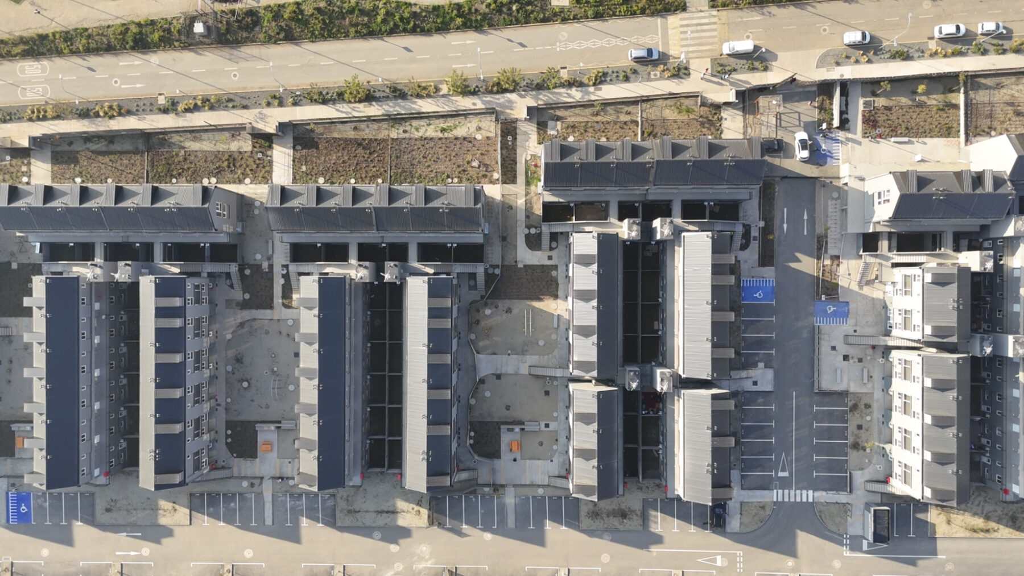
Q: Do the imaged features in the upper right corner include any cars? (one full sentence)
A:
Yes, you'll find a car in the upper right corner.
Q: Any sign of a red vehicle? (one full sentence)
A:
No, there appears to be no red vehicle in this shot.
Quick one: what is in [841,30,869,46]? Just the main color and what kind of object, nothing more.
white car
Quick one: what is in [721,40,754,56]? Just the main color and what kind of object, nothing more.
white vehicle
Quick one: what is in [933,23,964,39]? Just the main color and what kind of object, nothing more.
white car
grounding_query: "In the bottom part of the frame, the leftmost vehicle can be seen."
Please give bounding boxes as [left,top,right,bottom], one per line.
[712,502,727,533]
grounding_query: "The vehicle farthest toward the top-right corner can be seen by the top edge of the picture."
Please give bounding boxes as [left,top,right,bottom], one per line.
[976,21,1001,35]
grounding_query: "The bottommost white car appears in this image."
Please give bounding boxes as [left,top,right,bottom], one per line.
[794,132,809,161]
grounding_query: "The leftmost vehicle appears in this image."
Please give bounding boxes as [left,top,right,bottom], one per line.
[628,47,658,62]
